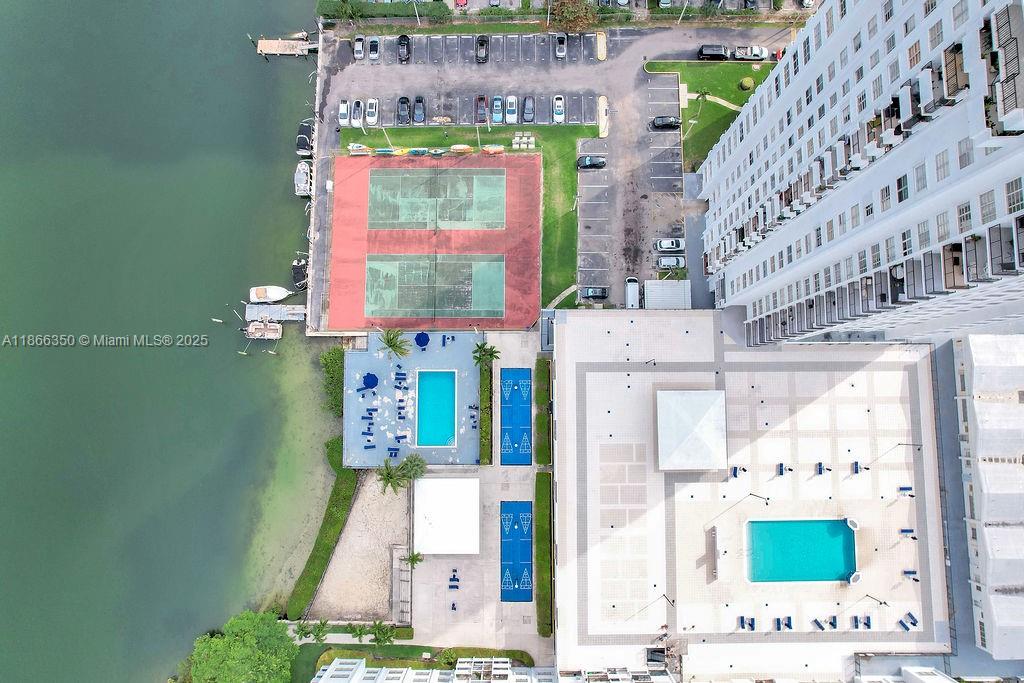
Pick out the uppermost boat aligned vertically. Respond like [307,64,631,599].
[296,123,311,156]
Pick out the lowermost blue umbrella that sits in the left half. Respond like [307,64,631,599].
[363,373,379,389]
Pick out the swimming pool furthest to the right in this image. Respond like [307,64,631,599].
[744,517,861,585]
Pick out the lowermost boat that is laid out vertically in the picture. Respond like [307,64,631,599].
[292,259,306,288]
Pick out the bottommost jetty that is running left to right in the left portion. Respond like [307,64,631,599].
[245,303,307,322]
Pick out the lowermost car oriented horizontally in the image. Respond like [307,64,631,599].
[581,287,608,299]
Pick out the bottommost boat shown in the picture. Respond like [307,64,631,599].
[242,322,282,339]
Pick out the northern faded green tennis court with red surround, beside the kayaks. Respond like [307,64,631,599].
[332,154,541,243]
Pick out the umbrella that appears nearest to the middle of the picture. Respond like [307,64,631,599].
[414,332,430,347]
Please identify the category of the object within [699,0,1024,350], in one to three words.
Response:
building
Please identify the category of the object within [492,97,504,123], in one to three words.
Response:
vehicle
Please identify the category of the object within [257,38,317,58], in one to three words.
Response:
pier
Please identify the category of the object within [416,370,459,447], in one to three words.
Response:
swimming pool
